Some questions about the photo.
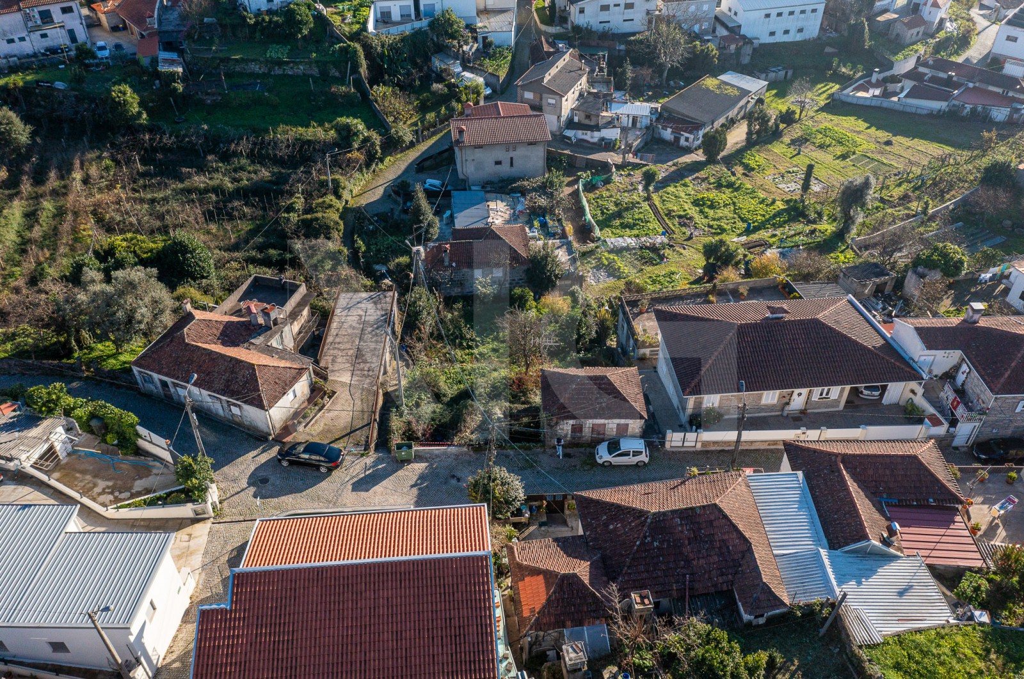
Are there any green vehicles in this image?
No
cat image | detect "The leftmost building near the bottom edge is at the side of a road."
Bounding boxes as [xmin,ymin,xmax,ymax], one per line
[0,500,203,678]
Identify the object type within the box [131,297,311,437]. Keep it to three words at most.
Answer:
house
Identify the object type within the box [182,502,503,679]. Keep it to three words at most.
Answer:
building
